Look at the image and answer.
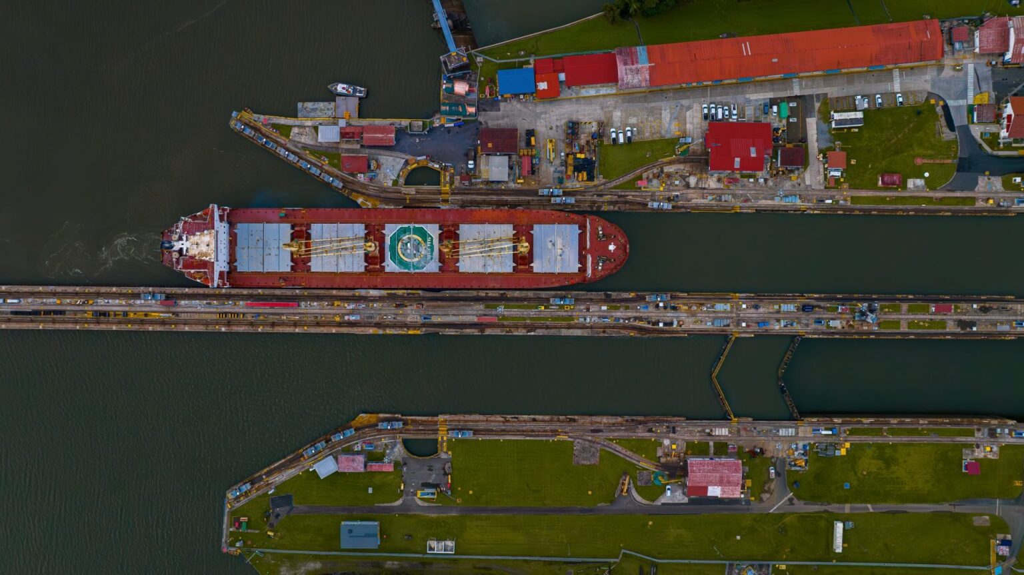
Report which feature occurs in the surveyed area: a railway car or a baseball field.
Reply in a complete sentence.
The one in the frame is a railway car.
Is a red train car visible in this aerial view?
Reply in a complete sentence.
No, no red train car is visible in the view.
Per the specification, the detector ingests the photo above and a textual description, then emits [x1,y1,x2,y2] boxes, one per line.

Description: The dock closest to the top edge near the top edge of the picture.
[429,0,475,58]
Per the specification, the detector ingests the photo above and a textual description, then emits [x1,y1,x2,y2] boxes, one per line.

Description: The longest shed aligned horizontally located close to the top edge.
[647,19,944,88]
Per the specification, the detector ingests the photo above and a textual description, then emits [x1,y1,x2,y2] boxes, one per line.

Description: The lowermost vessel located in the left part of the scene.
[160,204,630,288]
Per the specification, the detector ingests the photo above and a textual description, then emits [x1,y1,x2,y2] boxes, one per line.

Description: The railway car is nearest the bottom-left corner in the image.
[229,481,253,499]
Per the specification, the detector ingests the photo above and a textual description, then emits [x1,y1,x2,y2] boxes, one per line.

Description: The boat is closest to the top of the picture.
[328,83,367,98]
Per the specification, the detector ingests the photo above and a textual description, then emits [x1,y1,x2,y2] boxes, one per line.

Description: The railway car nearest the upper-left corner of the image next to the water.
[234,122,257,139]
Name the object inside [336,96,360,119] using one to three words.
pier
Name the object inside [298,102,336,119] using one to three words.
pier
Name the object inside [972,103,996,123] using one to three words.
house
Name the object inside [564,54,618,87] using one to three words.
shed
